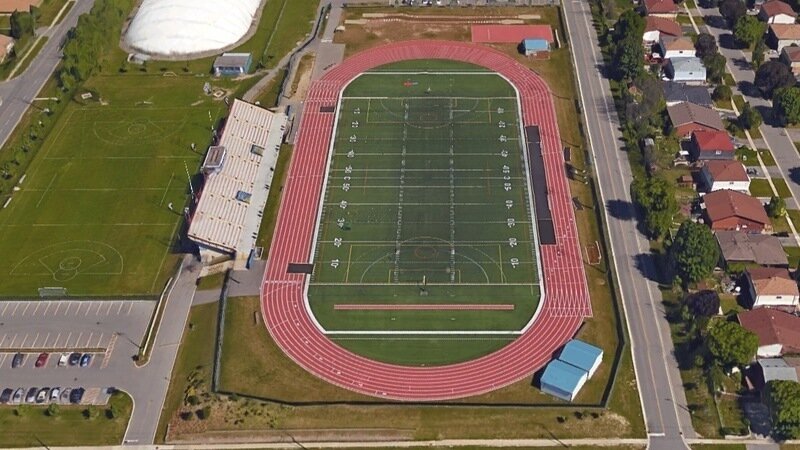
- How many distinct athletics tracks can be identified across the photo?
one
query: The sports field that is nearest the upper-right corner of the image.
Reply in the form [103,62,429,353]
[303,58,545,367]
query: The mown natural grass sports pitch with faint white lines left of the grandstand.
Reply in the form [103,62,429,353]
[0,106,212,295]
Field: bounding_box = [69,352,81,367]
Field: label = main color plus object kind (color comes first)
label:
black vehicle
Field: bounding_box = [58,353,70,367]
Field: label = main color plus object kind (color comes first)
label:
white vehicle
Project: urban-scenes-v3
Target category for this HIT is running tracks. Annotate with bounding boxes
[263,40,590,399]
